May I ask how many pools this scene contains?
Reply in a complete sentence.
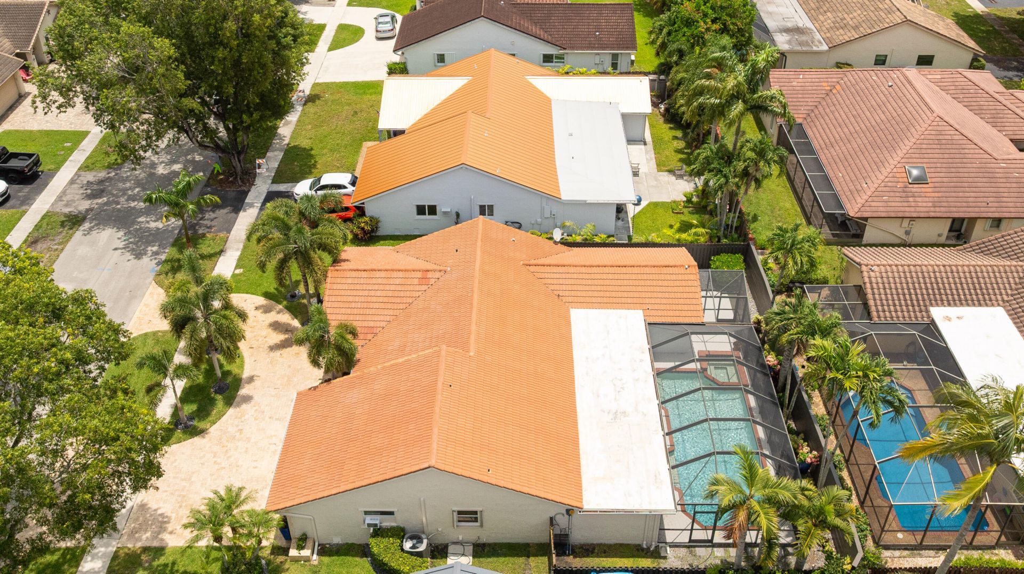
The photo contains 2 pools.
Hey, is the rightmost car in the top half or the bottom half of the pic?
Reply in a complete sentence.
It is in the top half that the rightmost car appears.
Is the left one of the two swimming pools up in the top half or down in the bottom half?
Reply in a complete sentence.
The left one of the two swimming pools sits in the bottom half of the picture.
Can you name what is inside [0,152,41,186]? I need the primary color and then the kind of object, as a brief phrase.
black truck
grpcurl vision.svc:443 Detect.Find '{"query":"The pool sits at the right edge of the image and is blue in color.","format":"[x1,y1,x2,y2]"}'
[836,379,993,539]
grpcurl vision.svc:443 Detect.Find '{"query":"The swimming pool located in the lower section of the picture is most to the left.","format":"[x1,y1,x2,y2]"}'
[656,348,779,528]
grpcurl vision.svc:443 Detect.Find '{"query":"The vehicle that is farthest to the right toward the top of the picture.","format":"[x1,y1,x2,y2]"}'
[377,12,400,34]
